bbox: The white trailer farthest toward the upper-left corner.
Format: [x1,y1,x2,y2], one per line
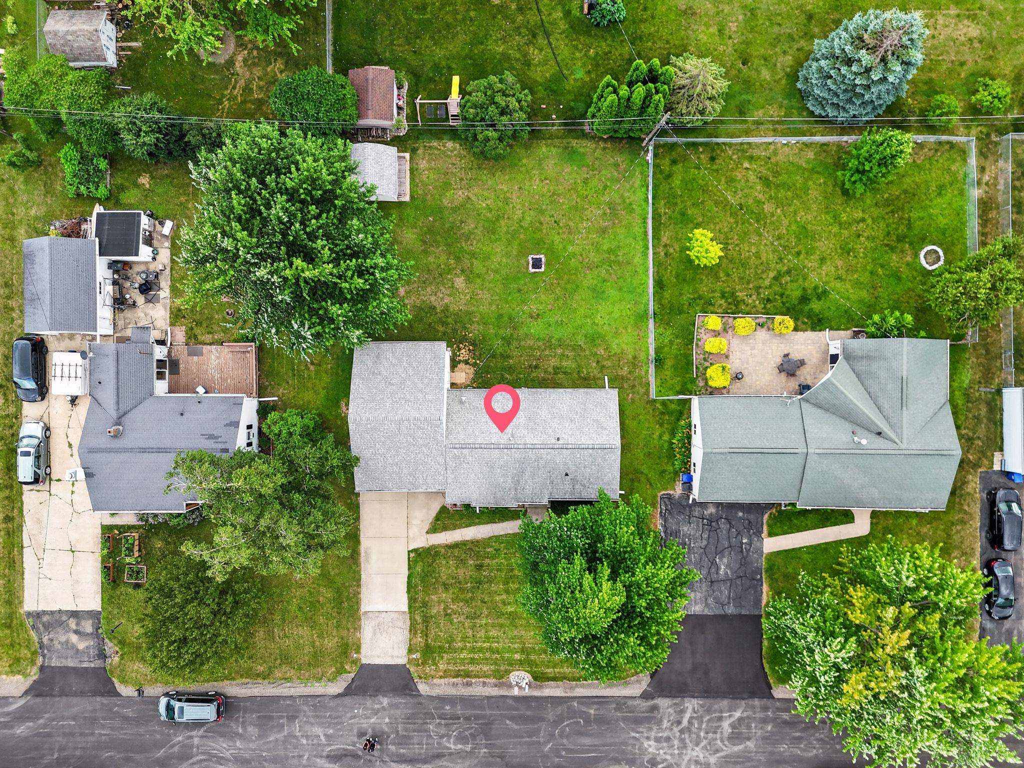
[51,351,88,411]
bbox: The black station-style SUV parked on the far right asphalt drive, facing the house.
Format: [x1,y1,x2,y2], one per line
[987,487,1024,551]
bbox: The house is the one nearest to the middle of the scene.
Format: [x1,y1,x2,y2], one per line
[347,340,626,514]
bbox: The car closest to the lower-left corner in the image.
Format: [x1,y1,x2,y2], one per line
[158,692,223,725]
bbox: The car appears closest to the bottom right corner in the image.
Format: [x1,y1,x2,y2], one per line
[985,560,1019,619]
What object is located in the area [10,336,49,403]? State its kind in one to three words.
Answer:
car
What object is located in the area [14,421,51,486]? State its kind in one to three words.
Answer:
car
